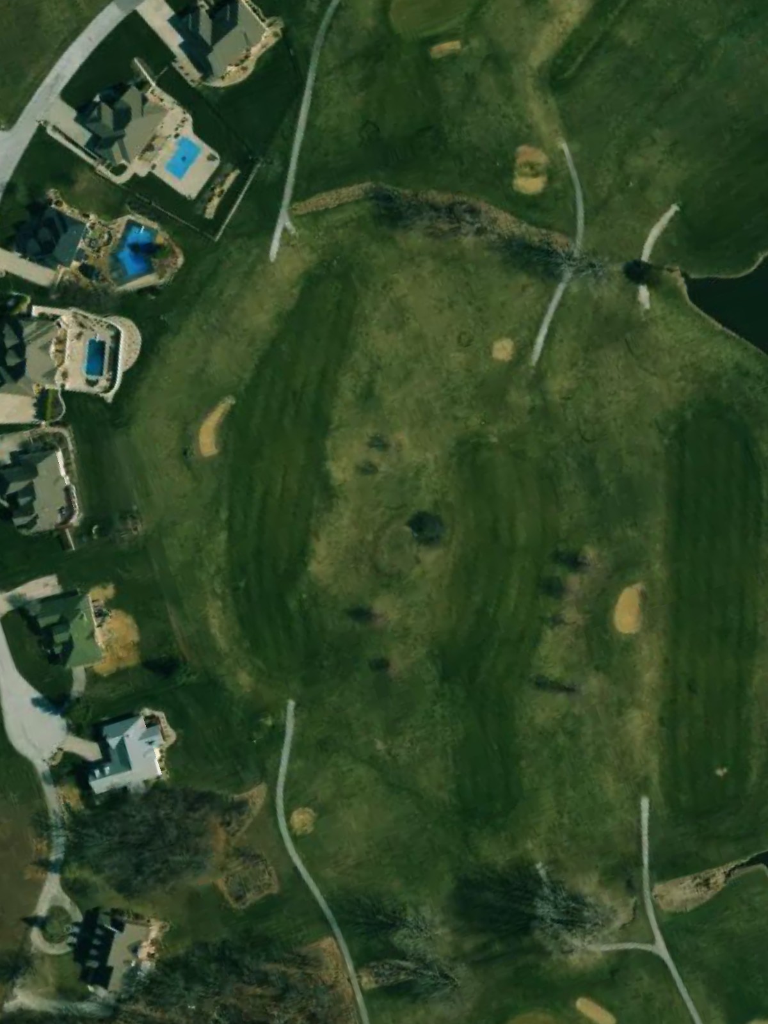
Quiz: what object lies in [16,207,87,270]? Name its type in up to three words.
house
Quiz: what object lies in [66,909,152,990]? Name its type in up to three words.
house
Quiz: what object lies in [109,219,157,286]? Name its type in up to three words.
swimming pool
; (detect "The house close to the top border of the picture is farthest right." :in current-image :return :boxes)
[169,0,268,78]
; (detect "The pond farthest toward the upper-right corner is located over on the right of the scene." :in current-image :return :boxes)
[684,257,768,353]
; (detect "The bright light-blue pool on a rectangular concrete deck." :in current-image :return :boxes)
[124,113,220,200]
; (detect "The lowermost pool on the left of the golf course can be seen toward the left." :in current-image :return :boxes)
[59,311,119,394]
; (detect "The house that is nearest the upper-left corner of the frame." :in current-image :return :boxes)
[76,86,168,166]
